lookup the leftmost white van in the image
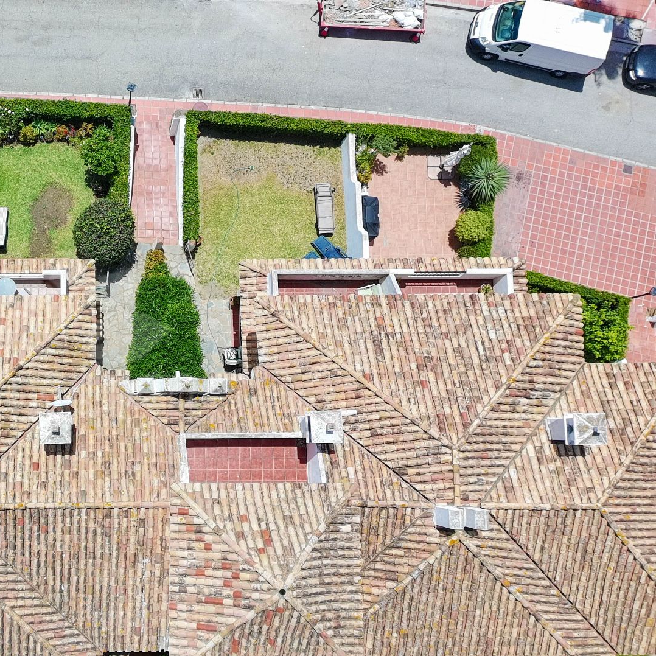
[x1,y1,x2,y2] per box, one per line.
[454,0,612,81]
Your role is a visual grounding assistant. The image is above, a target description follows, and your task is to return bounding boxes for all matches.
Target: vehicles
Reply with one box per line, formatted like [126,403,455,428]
[618,50,656,102]
[454,0,612,81]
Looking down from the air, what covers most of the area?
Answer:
buildings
